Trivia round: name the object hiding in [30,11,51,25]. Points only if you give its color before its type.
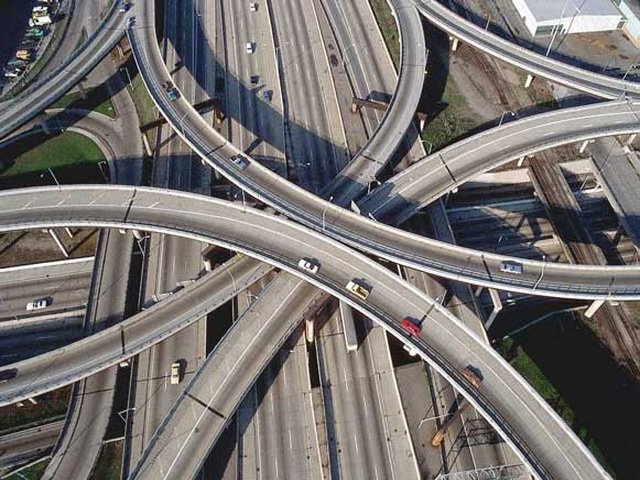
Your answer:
white vehicle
